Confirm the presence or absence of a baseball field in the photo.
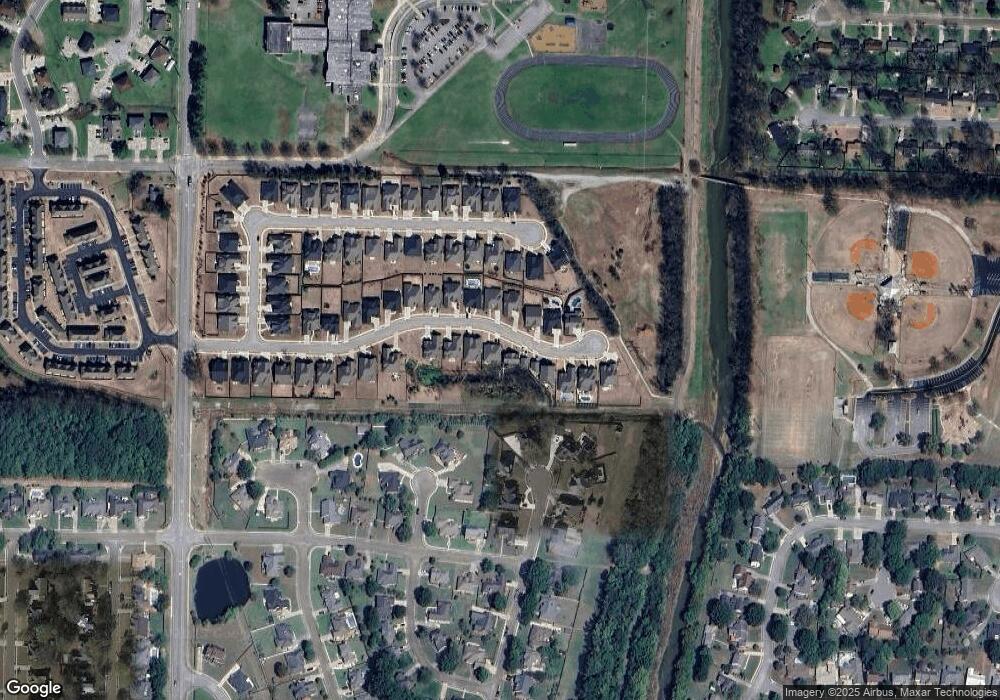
Yes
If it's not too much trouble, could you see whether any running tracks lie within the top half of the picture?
Yes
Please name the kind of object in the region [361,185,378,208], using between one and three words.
house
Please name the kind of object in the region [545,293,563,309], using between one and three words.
swimming pool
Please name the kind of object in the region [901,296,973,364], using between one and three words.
baseball field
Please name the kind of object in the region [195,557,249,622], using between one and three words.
pond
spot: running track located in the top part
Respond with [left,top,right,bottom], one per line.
[494,54,682,142]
